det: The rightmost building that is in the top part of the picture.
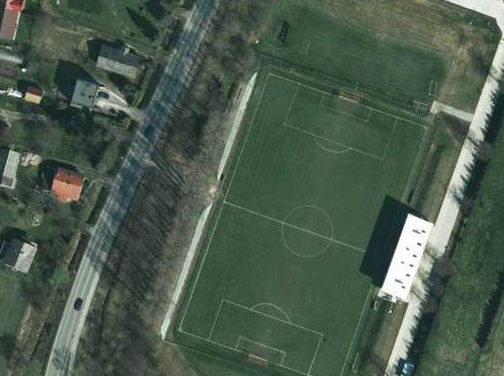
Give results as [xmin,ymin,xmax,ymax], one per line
[95,44,142,82]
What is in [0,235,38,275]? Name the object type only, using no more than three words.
house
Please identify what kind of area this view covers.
sports ground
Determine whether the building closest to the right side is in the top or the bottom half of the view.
bottom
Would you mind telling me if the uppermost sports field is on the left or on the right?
right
